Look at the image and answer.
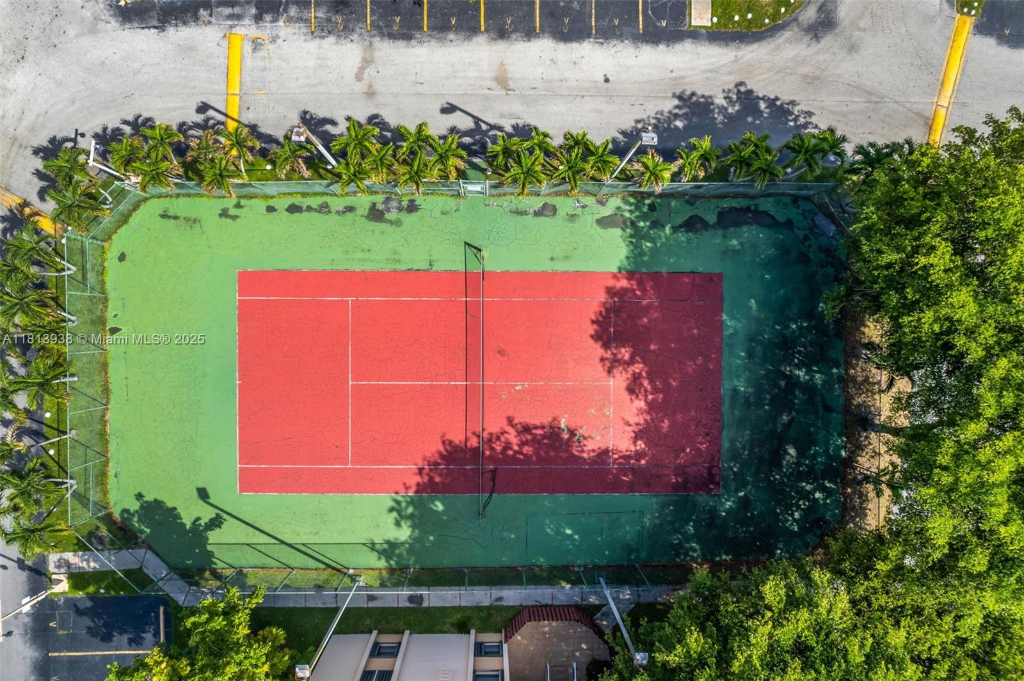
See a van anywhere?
No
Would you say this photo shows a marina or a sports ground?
sports ground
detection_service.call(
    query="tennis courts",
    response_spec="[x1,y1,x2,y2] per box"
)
[106,194,846,570]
